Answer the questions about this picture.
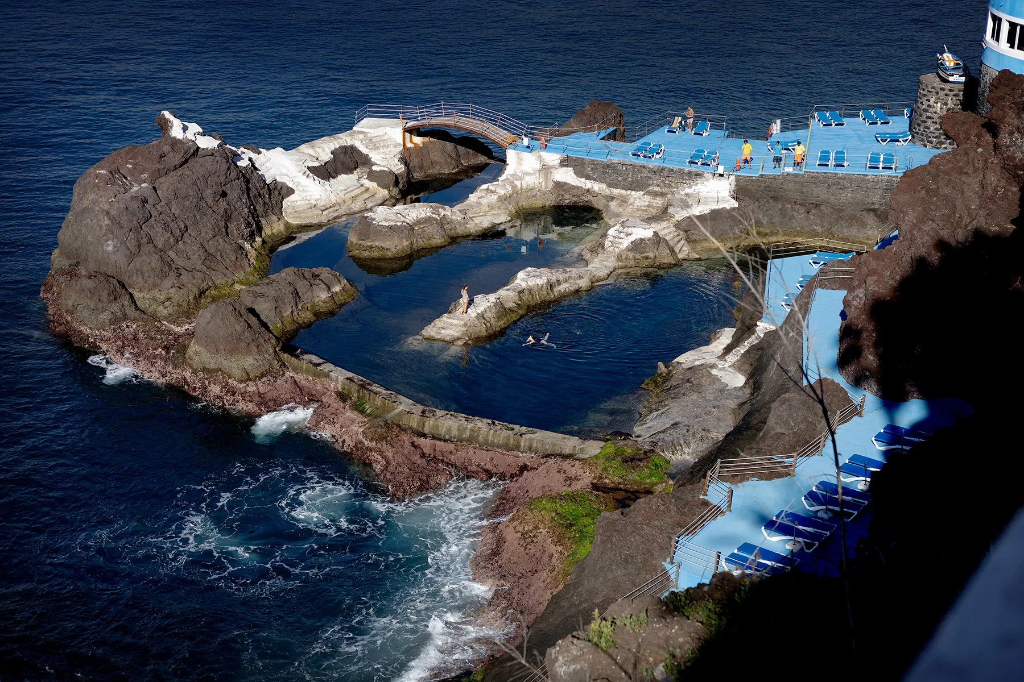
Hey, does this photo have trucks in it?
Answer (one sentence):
No, I can't see a single truck in this photo.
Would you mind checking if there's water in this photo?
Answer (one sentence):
Yes, water shows up in the scene.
